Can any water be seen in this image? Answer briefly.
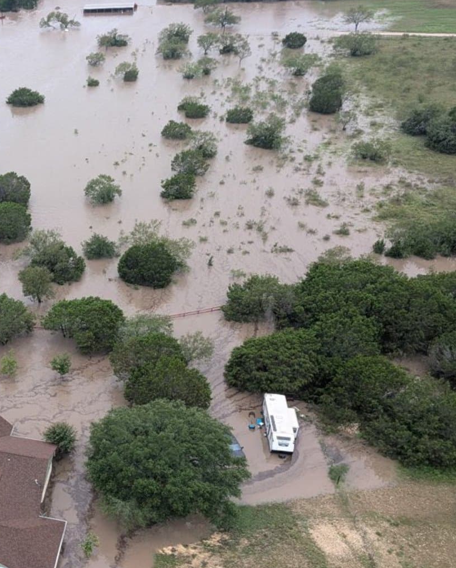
Yes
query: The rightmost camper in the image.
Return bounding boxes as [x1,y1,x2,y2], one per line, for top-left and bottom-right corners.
[260,394,301,462]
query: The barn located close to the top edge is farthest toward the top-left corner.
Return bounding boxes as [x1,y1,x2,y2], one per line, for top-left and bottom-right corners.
[79,0,135,13]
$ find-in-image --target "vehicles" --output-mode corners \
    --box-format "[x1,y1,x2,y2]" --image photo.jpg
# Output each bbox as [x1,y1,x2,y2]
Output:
[260,394,301,462]
[232,431,248,464]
